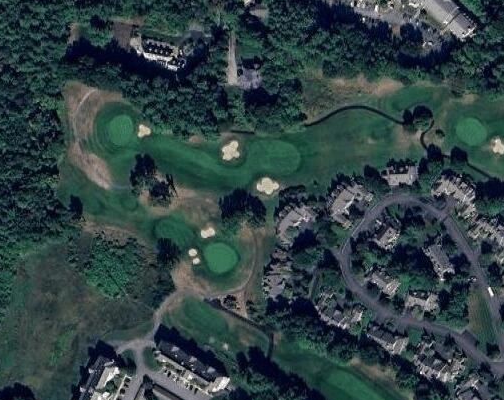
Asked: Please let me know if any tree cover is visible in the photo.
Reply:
Yes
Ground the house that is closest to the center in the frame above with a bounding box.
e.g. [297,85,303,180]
[271,203,316,249]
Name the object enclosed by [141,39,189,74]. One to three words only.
house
